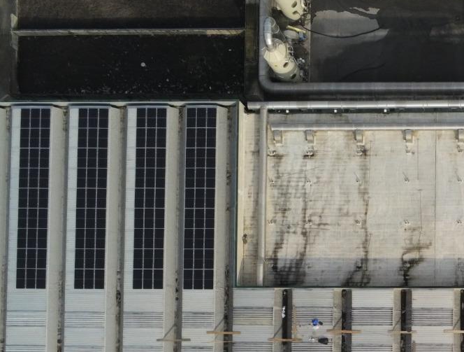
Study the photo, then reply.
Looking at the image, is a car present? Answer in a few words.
No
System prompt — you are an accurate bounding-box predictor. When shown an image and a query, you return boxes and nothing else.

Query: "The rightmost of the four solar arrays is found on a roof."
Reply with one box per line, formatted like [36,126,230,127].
[182,107,214,289]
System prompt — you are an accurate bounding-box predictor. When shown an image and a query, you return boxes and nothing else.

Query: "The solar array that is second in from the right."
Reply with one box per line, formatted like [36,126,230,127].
[132,107,164,289]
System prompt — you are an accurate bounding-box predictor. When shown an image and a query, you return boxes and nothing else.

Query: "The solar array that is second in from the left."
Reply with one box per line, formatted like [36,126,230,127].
[74,108,106,289]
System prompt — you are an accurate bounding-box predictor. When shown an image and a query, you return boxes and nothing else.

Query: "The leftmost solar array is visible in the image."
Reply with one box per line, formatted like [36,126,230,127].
[15,108,47,289]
